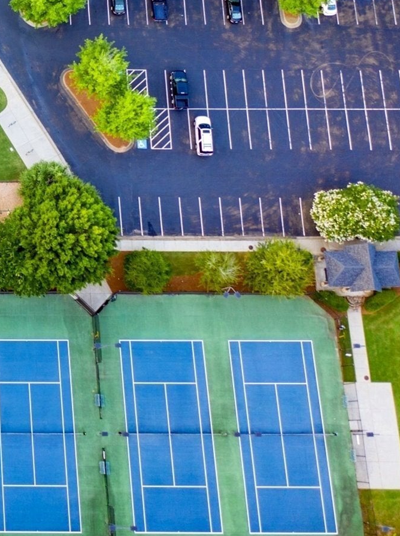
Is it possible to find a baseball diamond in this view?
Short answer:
No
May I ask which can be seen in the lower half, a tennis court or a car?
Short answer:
tennis court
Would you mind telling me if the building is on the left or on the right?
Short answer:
right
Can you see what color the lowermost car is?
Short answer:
white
